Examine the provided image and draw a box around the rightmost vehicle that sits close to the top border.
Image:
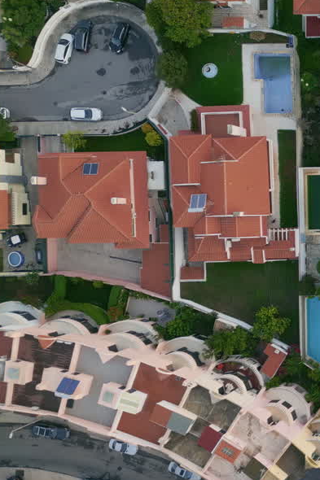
[110,22,132,54]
